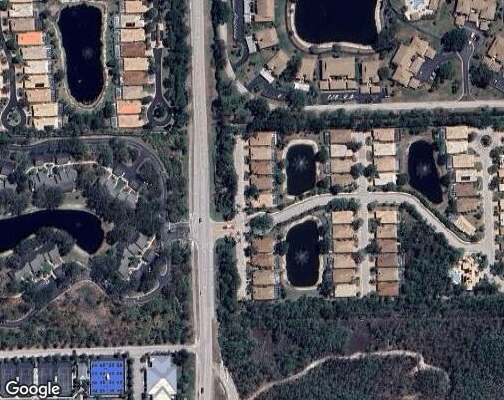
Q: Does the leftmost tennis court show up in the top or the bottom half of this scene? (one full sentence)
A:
It is in the bottom half that the leftmost tennis court appears.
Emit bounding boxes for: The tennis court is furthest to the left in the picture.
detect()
[0,361,34,397]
